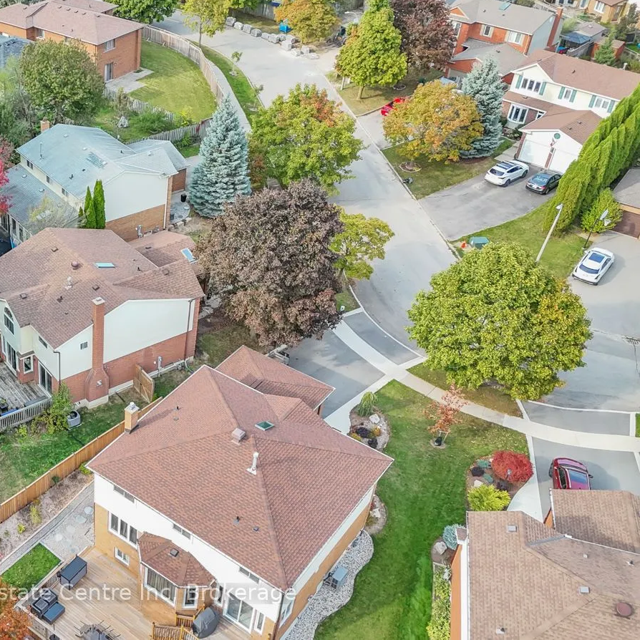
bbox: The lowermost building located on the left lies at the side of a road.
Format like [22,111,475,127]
[84,346,395,640]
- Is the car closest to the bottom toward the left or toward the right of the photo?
right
